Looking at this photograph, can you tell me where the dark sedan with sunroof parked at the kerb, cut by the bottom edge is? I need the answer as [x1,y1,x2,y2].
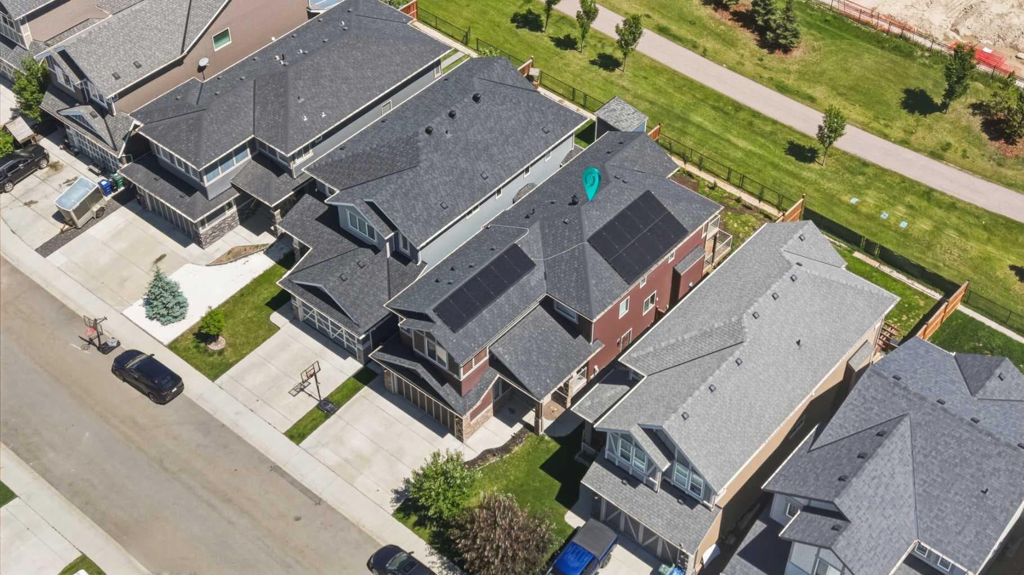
[370,545,435,575]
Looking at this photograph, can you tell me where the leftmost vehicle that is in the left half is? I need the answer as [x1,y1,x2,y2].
[0,143,50,189]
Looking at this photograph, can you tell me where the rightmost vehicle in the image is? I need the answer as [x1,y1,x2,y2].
[536,519,623,575]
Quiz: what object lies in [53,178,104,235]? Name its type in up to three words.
trailer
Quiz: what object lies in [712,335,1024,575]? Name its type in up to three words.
house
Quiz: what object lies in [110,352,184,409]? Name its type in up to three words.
car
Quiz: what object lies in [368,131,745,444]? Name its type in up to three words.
house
